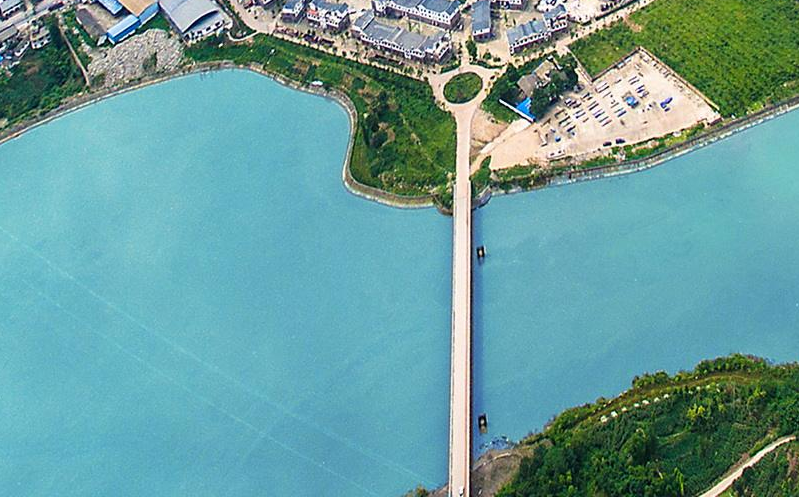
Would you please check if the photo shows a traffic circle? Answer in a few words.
Yes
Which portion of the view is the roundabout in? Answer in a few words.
top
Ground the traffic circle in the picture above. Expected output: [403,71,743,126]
[432,65,492,123]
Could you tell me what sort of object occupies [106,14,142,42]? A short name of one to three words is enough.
building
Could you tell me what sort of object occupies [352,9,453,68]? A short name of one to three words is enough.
house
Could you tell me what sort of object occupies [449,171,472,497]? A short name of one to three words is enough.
bridge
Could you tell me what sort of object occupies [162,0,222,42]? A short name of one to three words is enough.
building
